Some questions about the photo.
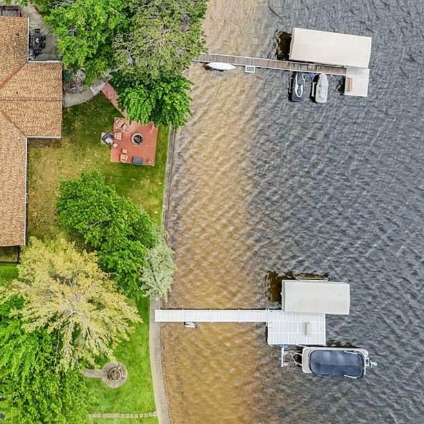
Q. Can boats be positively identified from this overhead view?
Yes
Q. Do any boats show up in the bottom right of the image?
Yes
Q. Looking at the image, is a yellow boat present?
No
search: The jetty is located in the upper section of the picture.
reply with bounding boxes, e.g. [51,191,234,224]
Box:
[199,53,371,97]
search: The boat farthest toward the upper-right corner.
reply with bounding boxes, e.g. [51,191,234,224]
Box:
[310,73,326,103]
